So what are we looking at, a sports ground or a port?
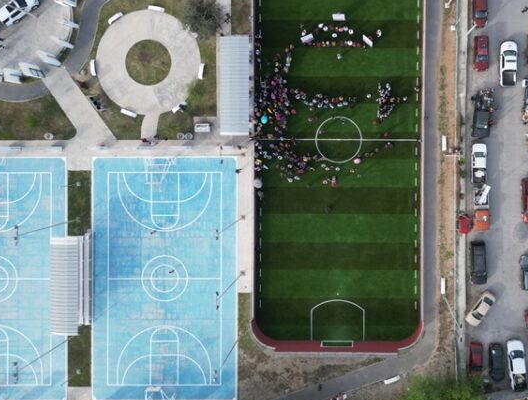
sports ground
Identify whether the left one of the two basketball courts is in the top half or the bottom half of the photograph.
bottom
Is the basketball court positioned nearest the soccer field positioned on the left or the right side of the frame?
left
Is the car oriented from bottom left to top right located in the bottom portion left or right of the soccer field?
right of it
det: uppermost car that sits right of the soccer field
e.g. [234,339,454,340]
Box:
[471,0,489,28]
